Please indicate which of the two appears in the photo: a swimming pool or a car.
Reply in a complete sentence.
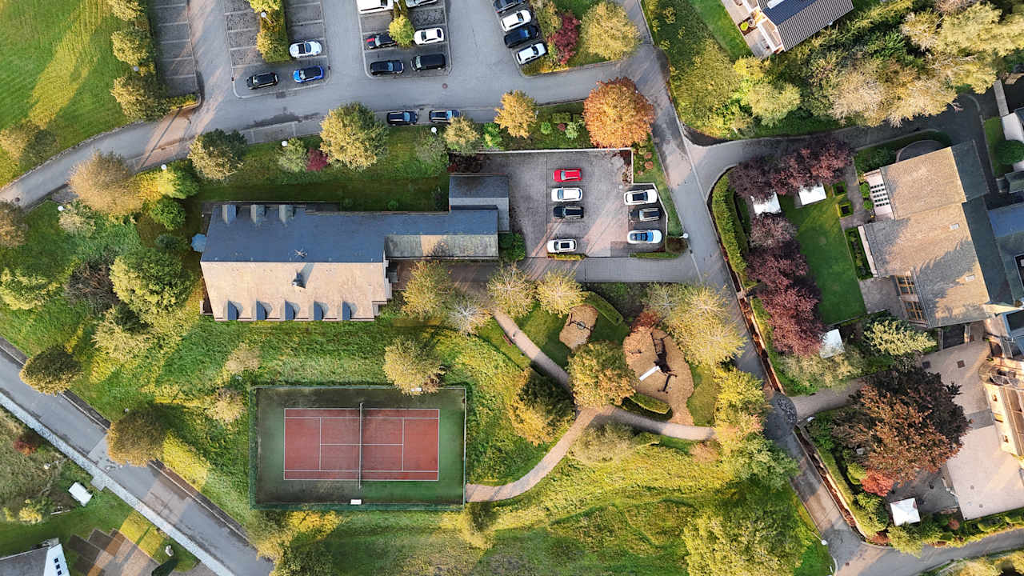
There is a car in the scene.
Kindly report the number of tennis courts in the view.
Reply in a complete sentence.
In total, there is 1 tennis court in the scene.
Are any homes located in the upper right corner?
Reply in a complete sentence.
Yes, a home is visible in the upper right corner.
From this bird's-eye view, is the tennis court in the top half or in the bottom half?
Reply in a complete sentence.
Seen from above, the tennis court lies in the bottom half of the view.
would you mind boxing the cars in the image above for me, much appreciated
[516,43,547,64]
[505,25,538,47]
[551,187,582,202]
[492,0,523,15]
[415,29,445,45]
[405,0,437,10]
[546,239,576,254]
[367,34,397,50]
[291,41,321,59]
[552,167,582,182]
[628,207,661,222]
[388,109,418,125]
[553,204,583,219]
[624,188,657,205]
[371,59,404,76]
[429,108,460,124]
[294,67,325,83]
[500,10,531,32]
[247,73,279,90]
[627,229,661,244]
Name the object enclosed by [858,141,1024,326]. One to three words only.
church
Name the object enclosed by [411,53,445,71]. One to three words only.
vehicle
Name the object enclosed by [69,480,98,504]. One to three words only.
shed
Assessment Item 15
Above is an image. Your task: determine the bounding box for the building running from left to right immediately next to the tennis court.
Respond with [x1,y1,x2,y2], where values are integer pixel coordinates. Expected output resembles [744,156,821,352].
[200,204,497,322]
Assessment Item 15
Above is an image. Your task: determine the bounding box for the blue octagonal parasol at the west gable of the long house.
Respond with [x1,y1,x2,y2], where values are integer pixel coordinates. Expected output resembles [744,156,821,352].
[190,234,206,250]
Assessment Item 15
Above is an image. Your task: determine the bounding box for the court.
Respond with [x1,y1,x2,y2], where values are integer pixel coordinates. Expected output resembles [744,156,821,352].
[257,388,465,504]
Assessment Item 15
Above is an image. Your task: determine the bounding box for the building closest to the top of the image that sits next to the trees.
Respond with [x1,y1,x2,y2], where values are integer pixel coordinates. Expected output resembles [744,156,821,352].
[744,0,867,59]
